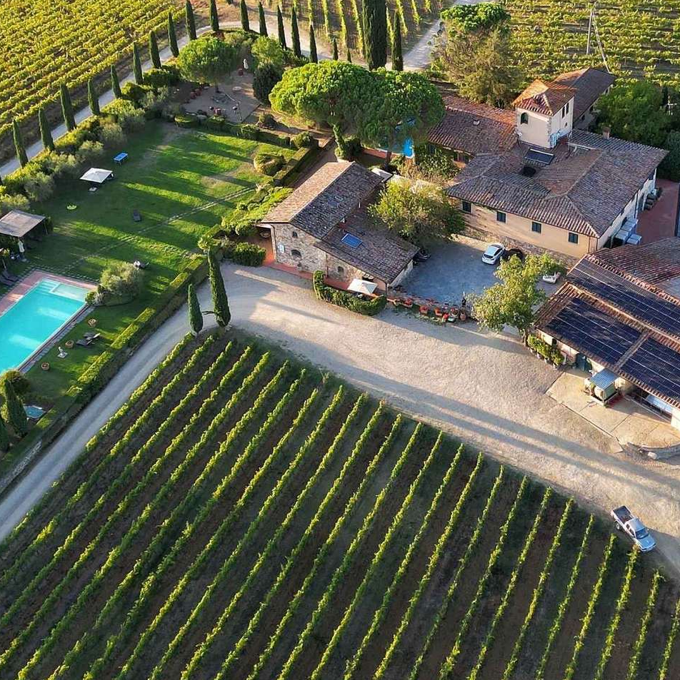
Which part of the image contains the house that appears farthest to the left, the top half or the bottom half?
top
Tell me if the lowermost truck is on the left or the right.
right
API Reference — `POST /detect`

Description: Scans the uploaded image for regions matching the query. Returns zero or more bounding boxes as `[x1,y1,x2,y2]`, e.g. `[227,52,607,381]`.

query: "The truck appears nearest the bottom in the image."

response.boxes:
[604,505,662,558]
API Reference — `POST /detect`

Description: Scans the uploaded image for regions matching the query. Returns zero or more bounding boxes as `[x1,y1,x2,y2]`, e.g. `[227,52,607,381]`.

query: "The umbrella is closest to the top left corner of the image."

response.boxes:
[82,170,112,191]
